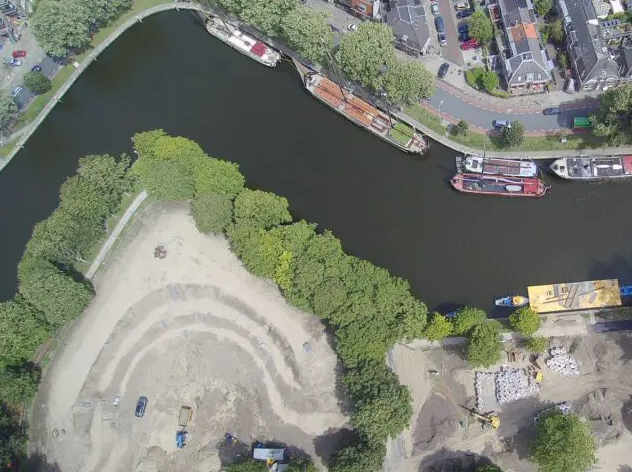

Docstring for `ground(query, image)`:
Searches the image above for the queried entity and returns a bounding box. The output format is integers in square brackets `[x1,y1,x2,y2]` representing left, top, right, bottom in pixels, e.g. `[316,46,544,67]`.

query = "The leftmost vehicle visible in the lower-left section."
[133,398,146,417]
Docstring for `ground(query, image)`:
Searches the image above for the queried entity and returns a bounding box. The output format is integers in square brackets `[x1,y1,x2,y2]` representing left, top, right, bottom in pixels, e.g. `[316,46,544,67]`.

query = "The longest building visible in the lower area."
[249,449,284,463]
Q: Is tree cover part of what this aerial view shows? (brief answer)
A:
Yes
